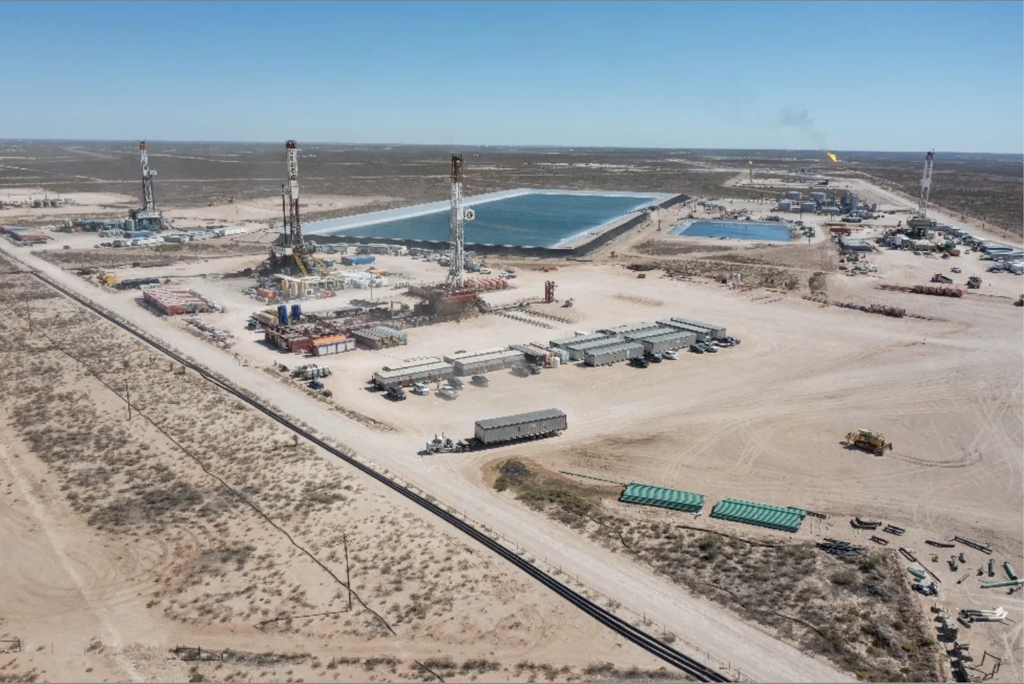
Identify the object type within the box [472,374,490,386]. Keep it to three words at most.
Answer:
vehicle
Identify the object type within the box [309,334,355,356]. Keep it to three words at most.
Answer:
building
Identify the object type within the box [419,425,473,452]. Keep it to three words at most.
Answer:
truck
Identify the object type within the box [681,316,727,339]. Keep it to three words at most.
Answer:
house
